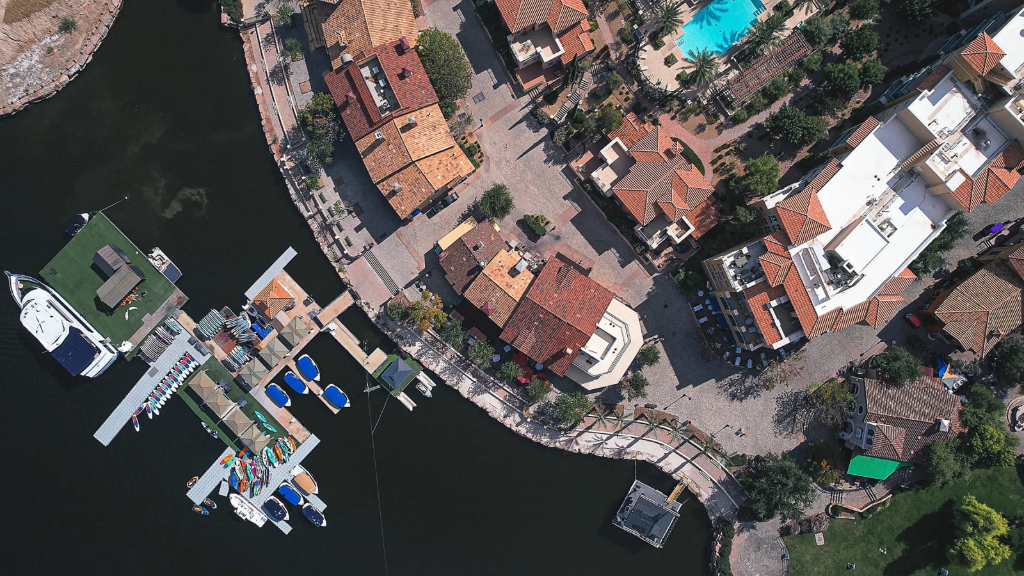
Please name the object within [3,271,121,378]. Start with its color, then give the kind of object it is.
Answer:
white boat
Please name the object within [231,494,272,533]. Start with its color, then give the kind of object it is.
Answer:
white boat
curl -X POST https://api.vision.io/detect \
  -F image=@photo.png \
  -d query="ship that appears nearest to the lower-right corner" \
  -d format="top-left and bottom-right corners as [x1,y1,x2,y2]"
[612,479,683,548]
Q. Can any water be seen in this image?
Yes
